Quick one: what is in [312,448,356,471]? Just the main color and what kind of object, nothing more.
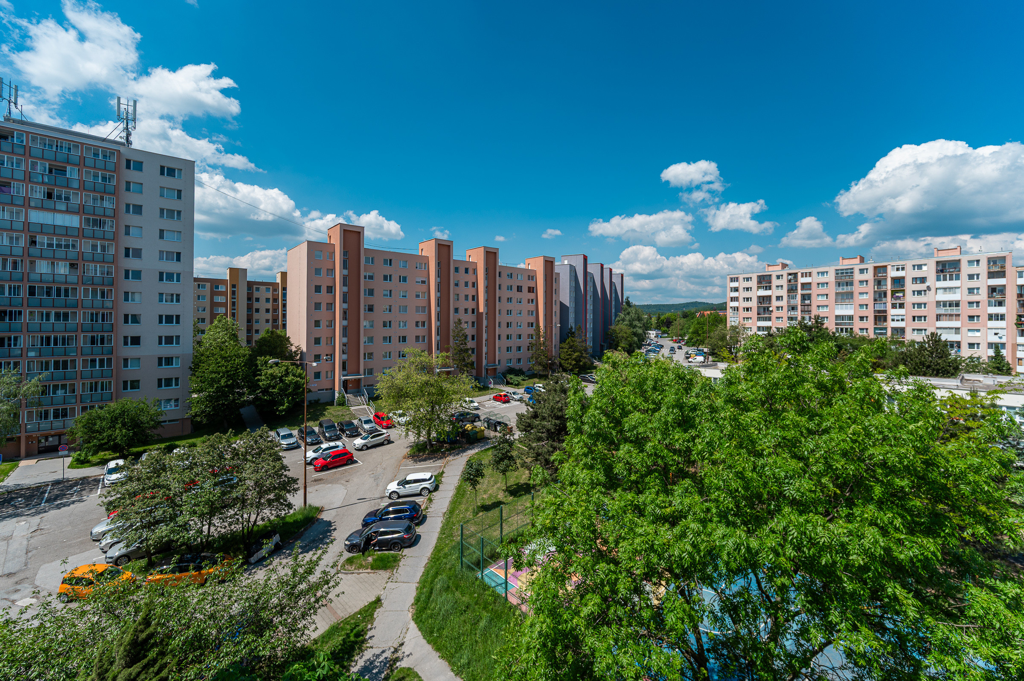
red car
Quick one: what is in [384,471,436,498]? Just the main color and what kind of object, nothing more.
white car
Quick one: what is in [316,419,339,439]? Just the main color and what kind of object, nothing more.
black car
